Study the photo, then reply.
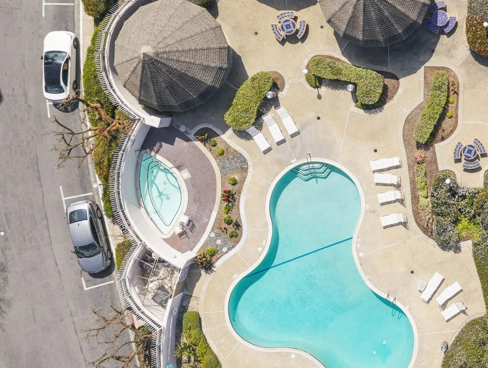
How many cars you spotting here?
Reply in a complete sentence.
The picture shows 2 cars.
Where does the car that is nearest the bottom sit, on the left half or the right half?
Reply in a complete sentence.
You can find the car that is nearest the bottom on the left side of the picture.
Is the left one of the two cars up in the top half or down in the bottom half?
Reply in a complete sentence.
You can find the left one of the two cars in the top half.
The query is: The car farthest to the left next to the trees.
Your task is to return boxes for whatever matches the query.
[40,31,79,102]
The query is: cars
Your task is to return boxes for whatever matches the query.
[66,197,111,274]
[40,31,79,102]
